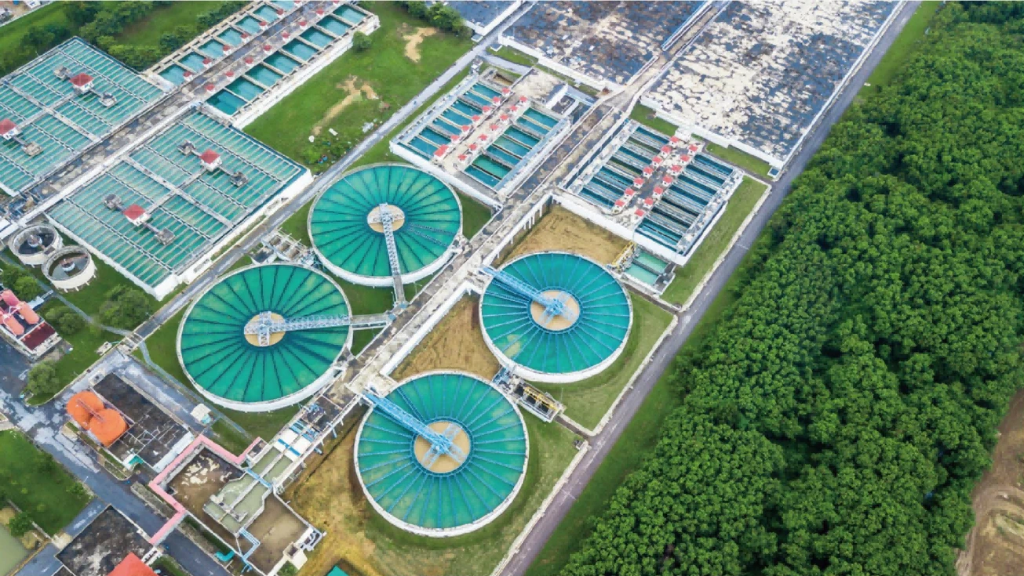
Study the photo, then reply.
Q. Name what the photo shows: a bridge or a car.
bridge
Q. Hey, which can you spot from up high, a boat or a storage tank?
storage tank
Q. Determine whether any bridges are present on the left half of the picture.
Yes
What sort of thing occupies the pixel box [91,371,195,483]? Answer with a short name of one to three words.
building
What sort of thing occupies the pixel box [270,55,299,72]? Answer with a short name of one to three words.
swimming pool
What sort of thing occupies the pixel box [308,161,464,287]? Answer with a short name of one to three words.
storage tank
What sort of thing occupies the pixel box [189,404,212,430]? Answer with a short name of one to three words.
shed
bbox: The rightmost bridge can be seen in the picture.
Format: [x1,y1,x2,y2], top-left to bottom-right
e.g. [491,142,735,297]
[484,262,578,325]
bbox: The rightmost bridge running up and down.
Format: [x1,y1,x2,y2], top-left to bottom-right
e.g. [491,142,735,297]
[368,200,405,284]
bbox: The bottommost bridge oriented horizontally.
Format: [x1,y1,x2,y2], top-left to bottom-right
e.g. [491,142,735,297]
[244,308,362,344]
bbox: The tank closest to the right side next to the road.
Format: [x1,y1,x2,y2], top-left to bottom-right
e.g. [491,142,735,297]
[478,247,634,383]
